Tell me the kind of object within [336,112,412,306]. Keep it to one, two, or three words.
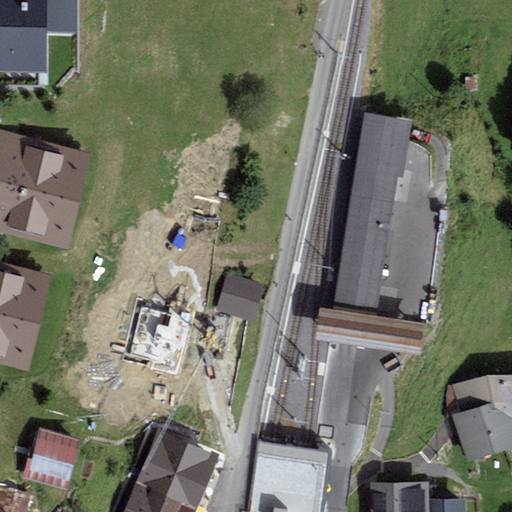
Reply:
building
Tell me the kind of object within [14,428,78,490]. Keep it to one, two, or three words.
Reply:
barn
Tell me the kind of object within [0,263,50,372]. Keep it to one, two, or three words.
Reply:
house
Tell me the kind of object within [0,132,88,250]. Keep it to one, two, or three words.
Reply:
house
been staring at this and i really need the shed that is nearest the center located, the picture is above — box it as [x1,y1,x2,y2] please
[217,276,264,322]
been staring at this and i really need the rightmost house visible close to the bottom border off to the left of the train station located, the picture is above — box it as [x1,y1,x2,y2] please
[119,434,225,512]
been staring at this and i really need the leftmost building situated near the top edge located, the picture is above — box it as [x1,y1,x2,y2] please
[0,0,76,73]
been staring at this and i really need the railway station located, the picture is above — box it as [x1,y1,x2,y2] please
[250,440,335,512]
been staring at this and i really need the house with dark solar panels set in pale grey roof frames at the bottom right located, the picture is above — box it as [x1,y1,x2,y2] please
[372,482,430,512]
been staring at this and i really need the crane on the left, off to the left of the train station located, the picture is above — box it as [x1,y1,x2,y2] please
[143,328,218,470]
